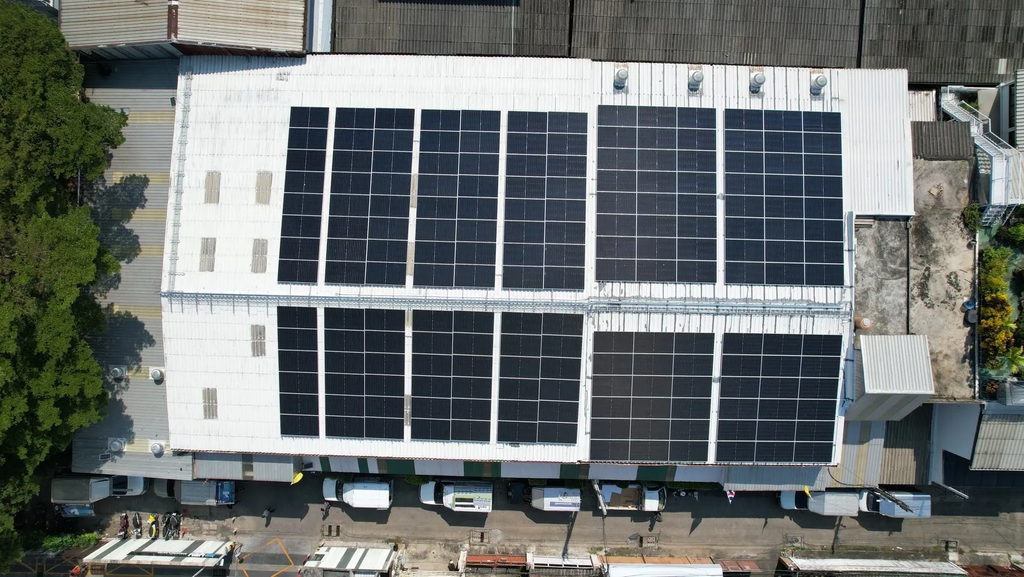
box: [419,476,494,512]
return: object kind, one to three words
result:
truck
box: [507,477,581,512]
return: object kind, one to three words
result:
truck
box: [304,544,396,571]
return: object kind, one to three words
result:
house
